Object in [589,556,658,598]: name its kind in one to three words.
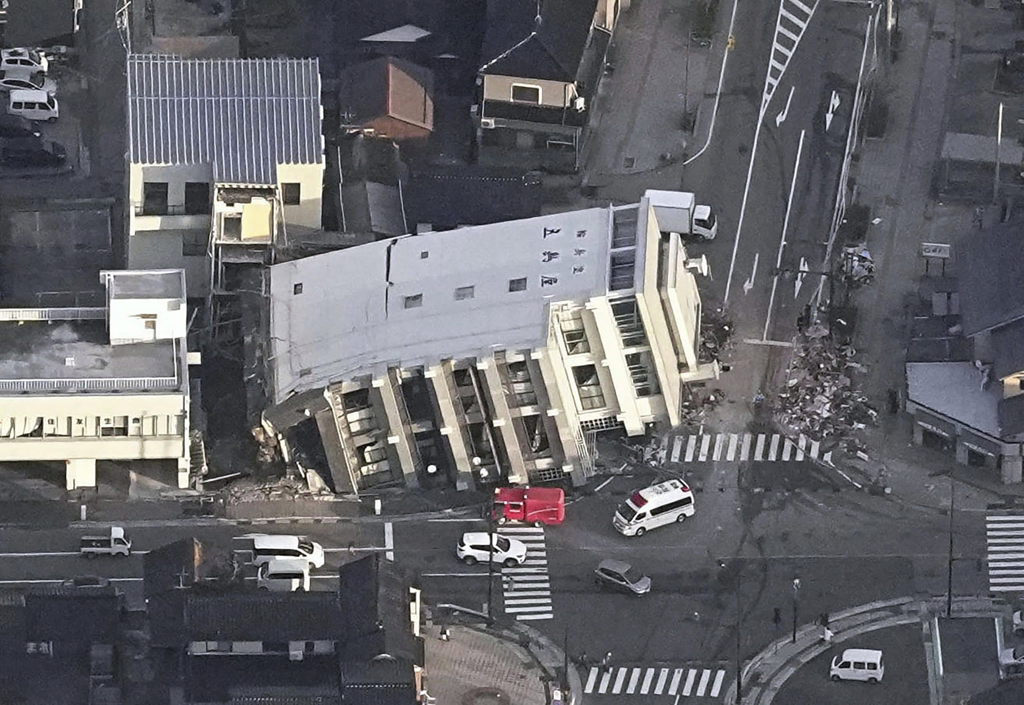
car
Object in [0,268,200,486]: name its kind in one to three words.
building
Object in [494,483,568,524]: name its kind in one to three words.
truck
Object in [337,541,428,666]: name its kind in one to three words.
house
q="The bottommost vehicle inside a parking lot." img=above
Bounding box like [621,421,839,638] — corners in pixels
[829,646,885,684]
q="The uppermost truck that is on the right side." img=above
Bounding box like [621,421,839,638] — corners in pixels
[644,189,718,243]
